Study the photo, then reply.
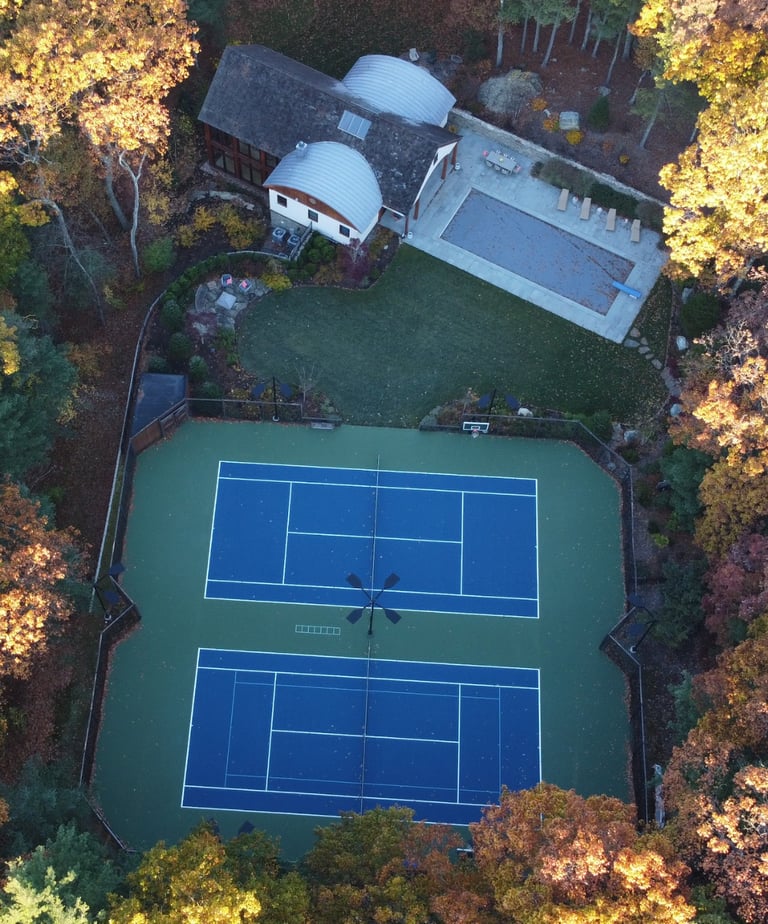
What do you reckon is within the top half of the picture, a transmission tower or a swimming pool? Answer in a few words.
swimming pool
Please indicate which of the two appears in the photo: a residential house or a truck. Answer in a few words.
residential house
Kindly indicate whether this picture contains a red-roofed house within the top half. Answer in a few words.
No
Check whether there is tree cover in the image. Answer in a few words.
Yes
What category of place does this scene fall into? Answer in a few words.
sports ground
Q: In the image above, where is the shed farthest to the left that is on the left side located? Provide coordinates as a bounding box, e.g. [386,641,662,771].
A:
[130,373,190,457]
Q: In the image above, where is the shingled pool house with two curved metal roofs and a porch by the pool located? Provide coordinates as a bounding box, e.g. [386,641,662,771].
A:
[199,45,462,248]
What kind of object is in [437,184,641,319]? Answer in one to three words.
swimming pool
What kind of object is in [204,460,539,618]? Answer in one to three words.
tennis court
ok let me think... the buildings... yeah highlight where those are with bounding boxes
[199,45,462,248]
[130,373,190,457]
